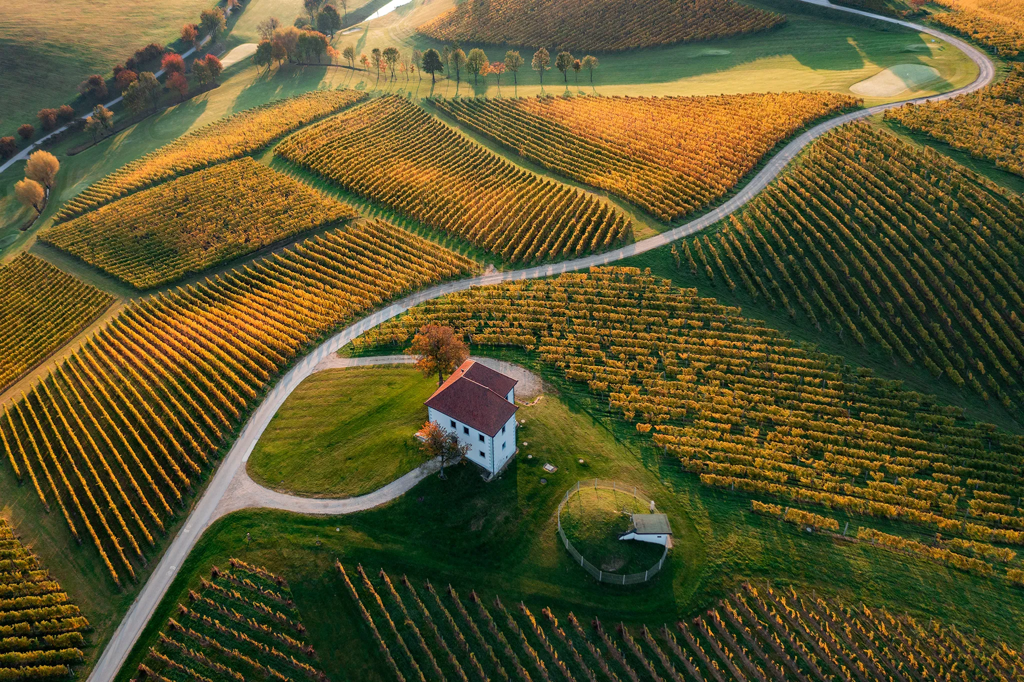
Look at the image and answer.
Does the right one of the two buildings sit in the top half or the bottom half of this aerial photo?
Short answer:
bottom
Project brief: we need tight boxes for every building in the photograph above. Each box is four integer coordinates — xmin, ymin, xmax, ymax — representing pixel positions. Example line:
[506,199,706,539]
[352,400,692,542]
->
[620,514,671,543]
[422,358,524,478]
